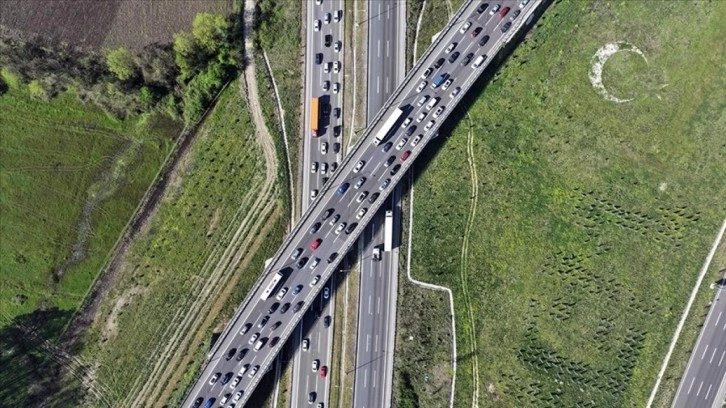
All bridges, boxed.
[179,0,547,408]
